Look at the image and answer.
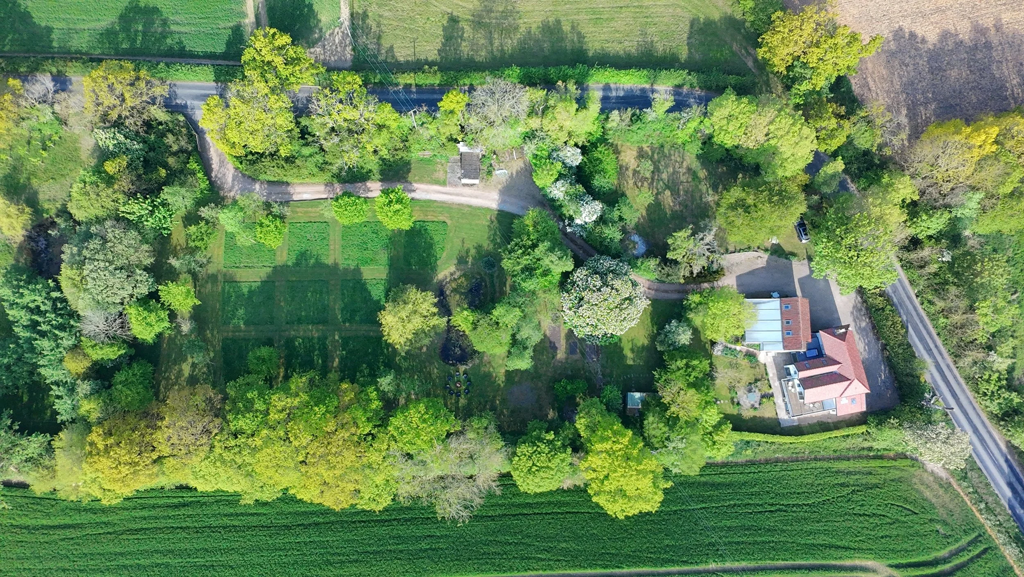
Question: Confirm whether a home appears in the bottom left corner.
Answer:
No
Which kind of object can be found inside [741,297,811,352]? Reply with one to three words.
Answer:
building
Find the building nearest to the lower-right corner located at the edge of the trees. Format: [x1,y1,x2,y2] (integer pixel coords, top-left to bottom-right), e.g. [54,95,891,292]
[776,323,870,418]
